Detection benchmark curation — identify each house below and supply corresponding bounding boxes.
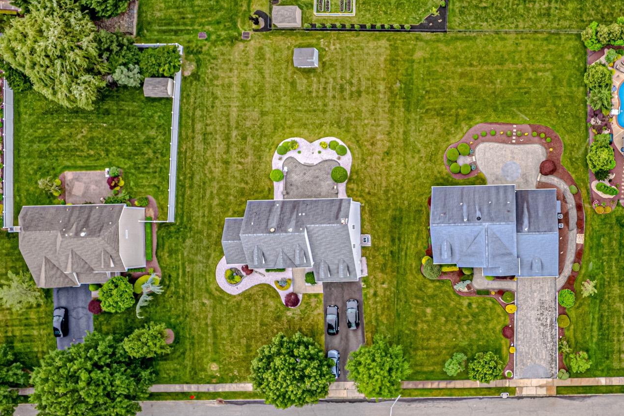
[218,198,361,282]
[15,204,145,289]
[428,184,560,277]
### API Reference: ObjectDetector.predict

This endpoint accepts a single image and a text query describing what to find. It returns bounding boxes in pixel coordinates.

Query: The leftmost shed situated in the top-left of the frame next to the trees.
[136,77,172,96]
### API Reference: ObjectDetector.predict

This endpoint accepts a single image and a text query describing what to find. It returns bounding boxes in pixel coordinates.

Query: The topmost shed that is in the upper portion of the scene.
[266,1,301,26]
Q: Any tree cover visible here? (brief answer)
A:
Yes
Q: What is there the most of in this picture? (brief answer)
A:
grass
